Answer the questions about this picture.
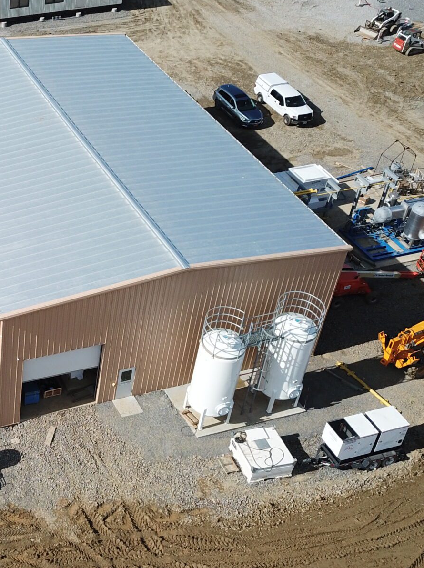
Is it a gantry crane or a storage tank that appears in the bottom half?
storage tank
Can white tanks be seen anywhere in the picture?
Yes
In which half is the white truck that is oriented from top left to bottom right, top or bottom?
top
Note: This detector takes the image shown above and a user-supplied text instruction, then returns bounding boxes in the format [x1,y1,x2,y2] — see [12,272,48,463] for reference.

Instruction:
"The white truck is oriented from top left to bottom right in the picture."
[254,73,320,129]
